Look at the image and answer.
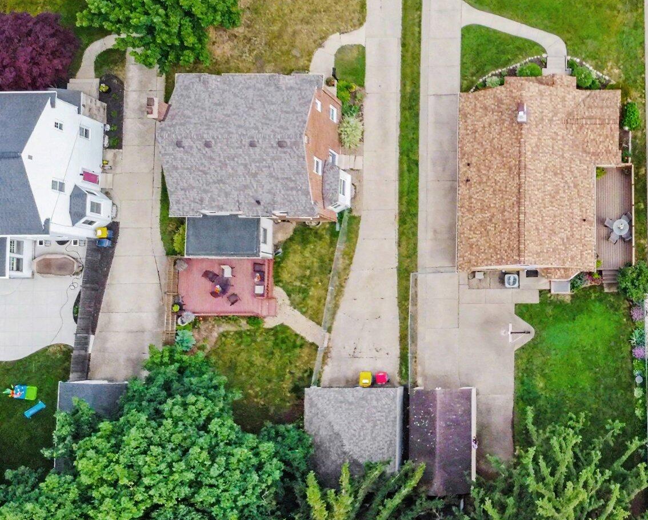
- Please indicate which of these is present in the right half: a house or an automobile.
house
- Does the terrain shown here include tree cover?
Yes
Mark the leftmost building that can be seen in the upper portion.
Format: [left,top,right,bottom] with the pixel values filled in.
[0,90,114,280]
